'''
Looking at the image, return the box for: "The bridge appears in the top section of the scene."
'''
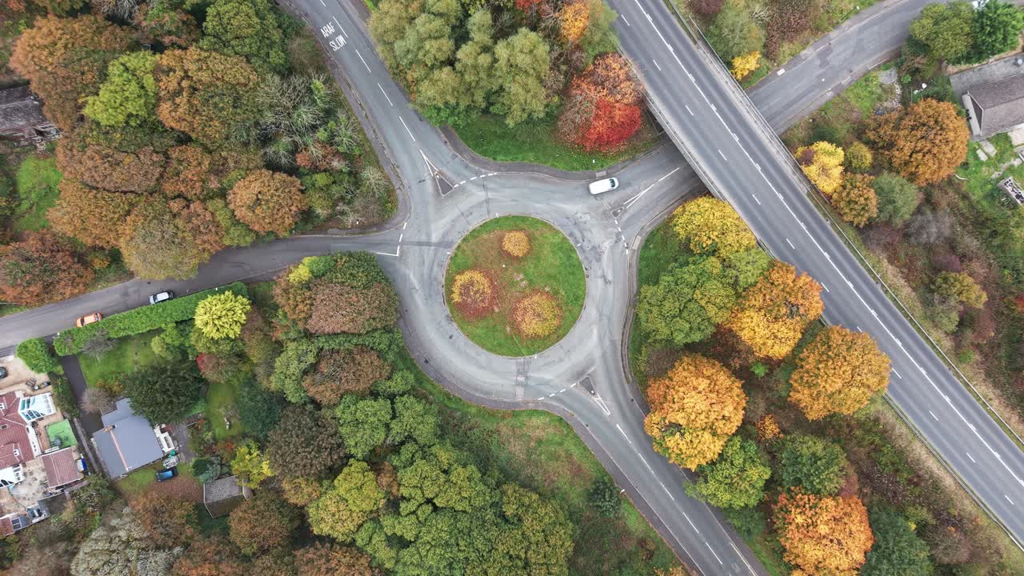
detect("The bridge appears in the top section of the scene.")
[623,20,820,248]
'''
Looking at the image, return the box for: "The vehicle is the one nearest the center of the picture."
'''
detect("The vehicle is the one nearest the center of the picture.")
[586,176,617,196]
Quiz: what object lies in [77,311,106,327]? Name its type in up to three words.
car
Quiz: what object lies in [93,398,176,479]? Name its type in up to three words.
house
